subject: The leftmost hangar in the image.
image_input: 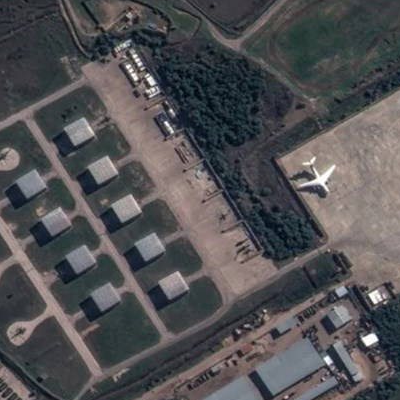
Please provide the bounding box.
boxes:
[17,170,47,199]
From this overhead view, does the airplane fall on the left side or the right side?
right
